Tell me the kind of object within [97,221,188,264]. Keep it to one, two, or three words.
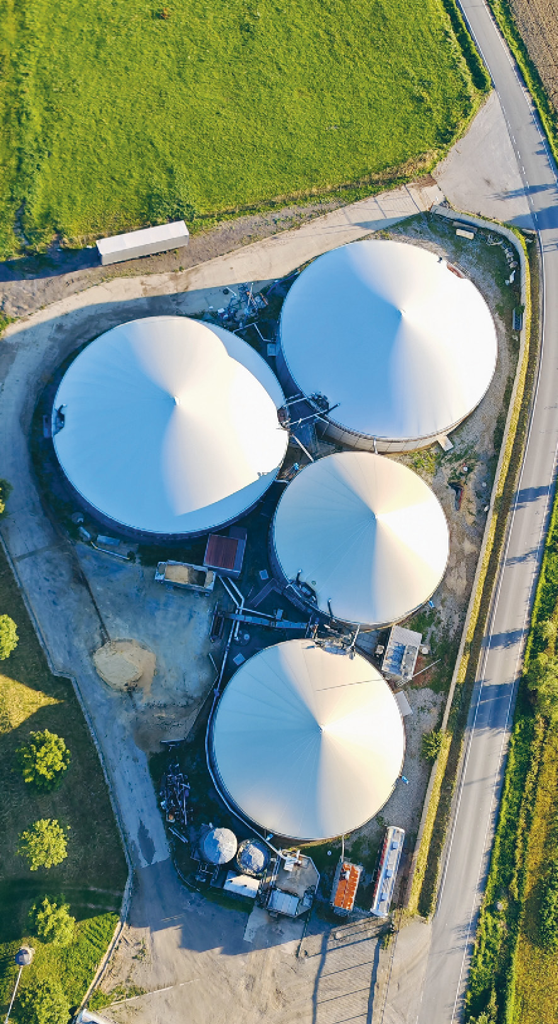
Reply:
trailer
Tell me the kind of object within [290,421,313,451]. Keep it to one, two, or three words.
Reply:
shed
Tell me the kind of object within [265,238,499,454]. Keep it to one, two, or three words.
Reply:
storage tank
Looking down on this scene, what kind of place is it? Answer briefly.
industrial area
